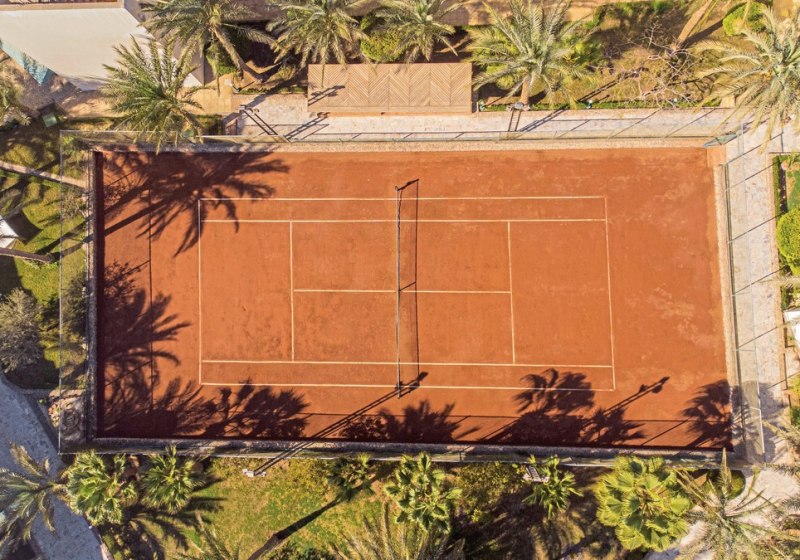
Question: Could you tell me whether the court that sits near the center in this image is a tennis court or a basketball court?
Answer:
tennis court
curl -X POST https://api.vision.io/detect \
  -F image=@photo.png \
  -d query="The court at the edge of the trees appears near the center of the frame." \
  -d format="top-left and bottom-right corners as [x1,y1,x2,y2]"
[97,144,734,449]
